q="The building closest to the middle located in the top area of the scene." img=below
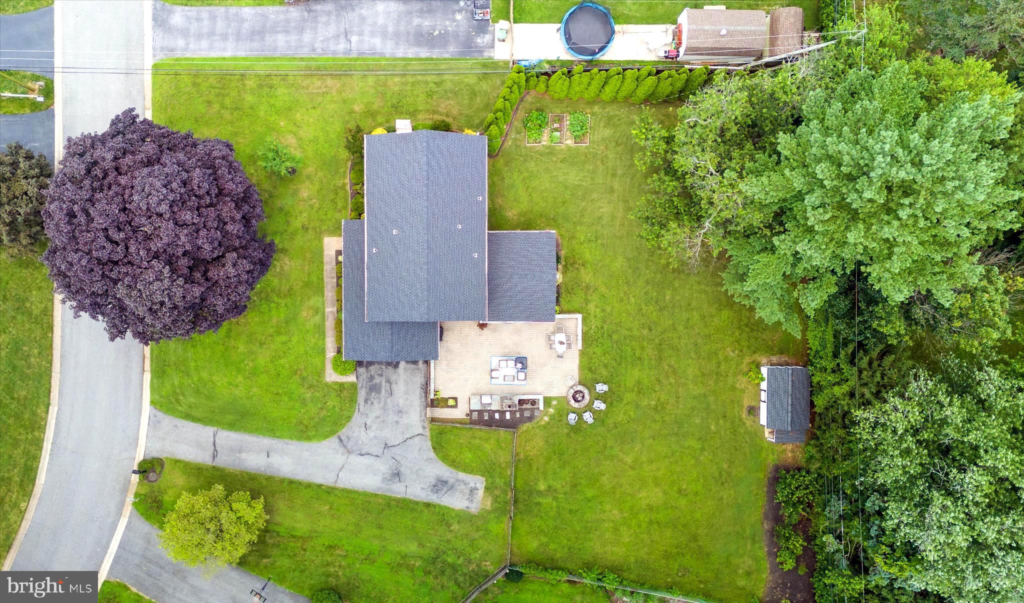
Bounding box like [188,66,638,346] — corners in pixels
[341,119,557,362]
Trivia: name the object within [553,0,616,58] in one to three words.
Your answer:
trampoline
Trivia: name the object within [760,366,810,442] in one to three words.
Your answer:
shed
